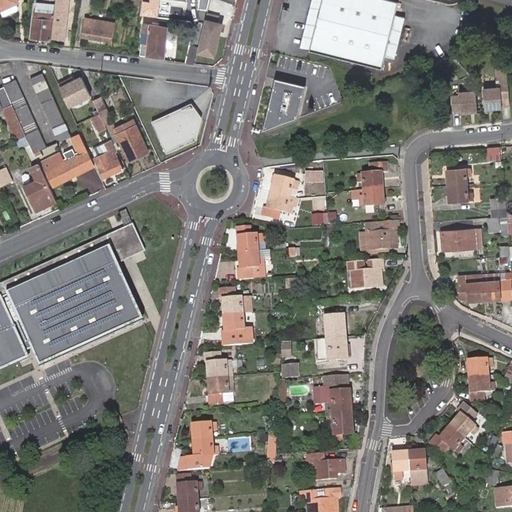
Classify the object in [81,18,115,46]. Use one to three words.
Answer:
house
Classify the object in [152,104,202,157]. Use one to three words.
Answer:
building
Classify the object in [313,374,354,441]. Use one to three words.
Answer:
house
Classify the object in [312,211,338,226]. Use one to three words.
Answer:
shed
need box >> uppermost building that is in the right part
[300,0,404,71]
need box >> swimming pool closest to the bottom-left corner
[228,436,252,453]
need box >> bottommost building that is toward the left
[174,470,204,512]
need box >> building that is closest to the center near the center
[236,224,266,282]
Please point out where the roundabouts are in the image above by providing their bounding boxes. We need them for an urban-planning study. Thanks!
[180,151,250,218]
